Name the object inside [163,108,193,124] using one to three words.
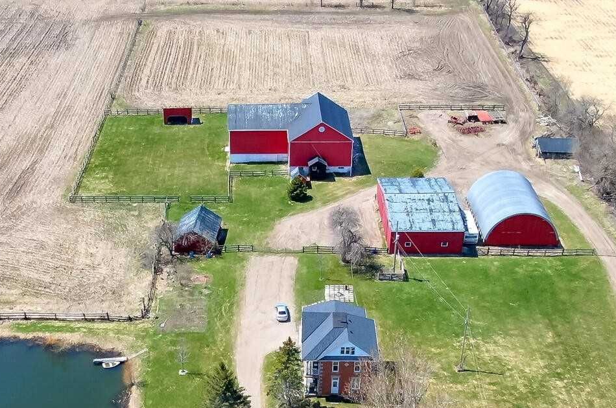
shed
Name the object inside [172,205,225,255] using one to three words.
shed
